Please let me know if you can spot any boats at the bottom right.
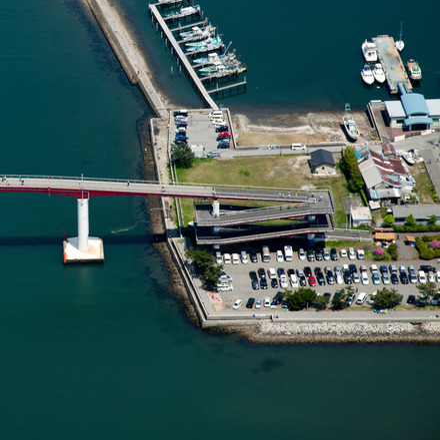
No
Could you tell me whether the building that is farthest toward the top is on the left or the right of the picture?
right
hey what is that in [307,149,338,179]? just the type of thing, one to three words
house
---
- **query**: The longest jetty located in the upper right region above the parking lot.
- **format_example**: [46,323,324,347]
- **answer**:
[372,33,413,96]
